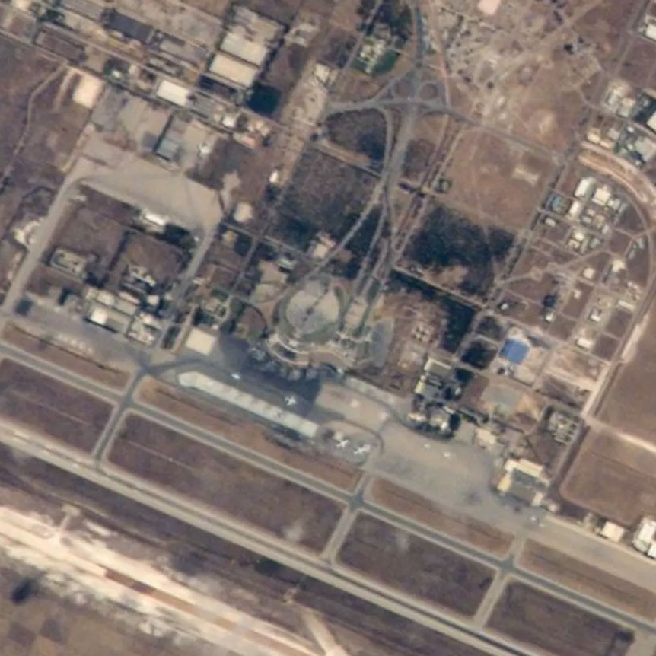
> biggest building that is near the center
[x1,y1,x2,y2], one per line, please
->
[266,331,370,373]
